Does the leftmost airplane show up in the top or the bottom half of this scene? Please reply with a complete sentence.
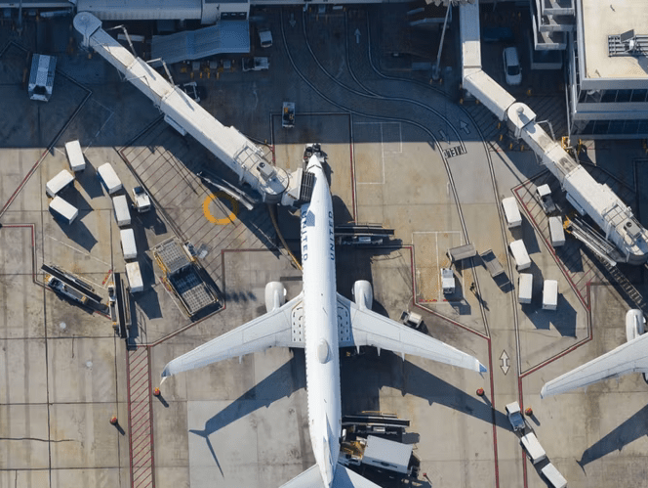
The bottom half of the photo is where the leftmost airplane is.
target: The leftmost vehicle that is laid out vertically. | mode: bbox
[28,51,55,103]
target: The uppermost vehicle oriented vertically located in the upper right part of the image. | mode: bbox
[501,47,523,88]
